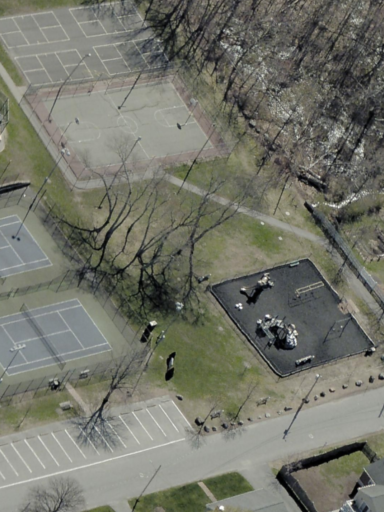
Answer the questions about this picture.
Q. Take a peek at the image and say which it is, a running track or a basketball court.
basketball court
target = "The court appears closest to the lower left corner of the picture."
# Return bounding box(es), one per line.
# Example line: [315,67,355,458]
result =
[0,273,149,394]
